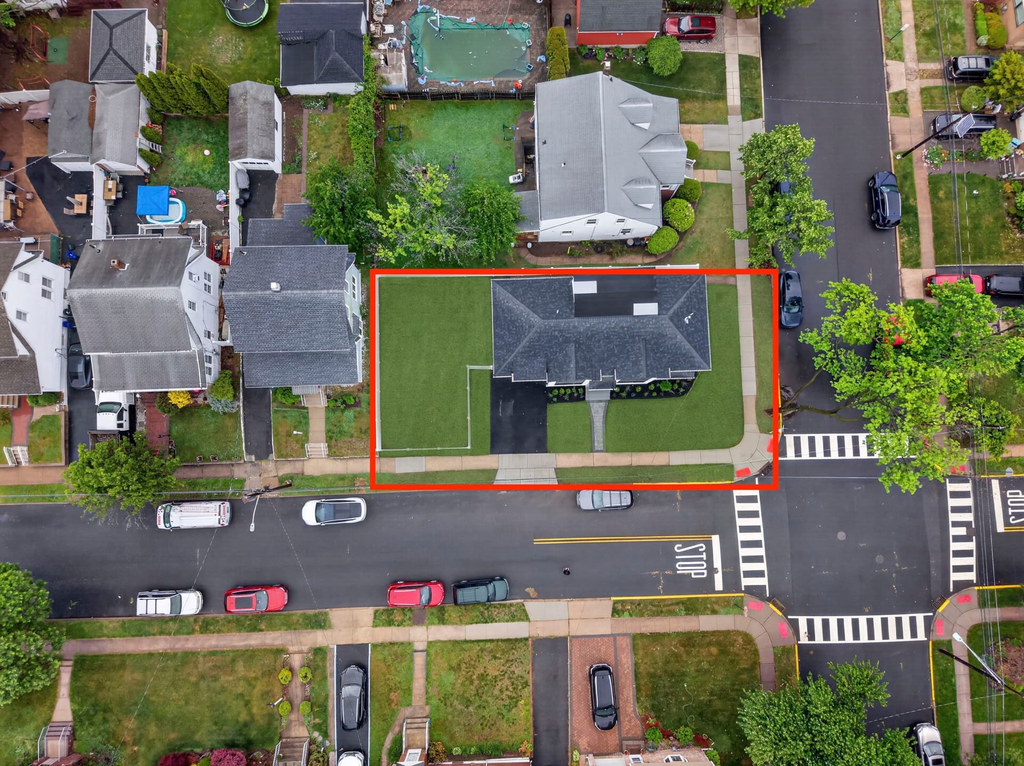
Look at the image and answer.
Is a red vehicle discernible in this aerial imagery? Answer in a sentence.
Yes, the photo shows a red vehicle.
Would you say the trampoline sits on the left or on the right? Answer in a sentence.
The trampoline is on the left side of the image.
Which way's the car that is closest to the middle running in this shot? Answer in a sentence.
In this picture, the car that is closest to the middle is oriented from side to side.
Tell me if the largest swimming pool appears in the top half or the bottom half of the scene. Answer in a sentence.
The largest swimming pool sits in the top half of the picture.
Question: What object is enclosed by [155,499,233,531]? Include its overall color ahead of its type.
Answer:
white vehicle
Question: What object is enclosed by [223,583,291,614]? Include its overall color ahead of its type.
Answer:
red car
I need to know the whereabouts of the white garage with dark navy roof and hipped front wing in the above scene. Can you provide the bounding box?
[277,1,367,98]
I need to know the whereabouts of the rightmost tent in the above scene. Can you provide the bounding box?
[137,185,183,223]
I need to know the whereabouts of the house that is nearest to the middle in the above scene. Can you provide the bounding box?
[490,272,713,401]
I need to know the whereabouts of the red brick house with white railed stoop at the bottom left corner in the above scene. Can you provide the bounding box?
[38,720,83,766]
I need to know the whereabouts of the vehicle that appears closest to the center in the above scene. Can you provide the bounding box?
[574,486,635,515]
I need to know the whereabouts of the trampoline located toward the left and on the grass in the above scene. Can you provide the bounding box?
[221,0,270,28]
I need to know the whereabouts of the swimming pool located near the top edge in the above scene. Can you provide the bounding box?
[408,8,531,82]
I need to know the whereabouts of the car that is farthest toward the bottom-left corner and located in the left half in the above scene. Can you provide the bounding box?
[133,587,206,619]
